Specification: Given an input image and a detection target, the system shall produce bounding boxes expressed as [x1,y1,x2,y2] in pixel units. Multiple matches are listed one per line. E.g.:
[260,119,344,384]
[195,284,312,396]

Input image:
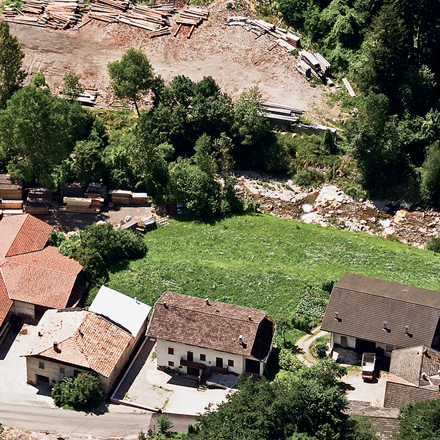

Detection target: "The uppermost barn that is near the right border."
[321,273,439,357]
